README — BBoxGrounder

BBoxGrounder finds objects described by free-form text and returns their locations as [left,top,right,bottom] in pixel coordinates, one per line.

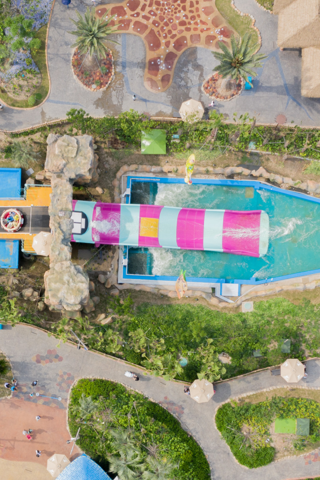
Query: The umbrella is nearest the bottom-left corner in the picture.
[46,451,71,476]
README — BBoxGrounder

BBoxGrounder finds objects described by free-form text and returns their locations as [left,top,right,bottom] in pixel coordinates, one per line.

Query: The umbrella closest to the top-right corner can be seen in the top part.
[179,98,204,124]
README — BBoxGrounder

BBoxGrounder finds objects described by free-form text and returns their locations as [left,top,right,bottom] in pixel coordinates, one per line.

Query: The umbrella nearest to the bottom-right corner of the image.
[279,358,305,383]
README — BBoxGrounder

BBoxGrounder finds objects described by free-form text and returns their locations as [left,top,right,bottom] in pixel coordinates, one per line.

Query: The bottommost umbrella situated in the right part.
[189,378,213,402]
